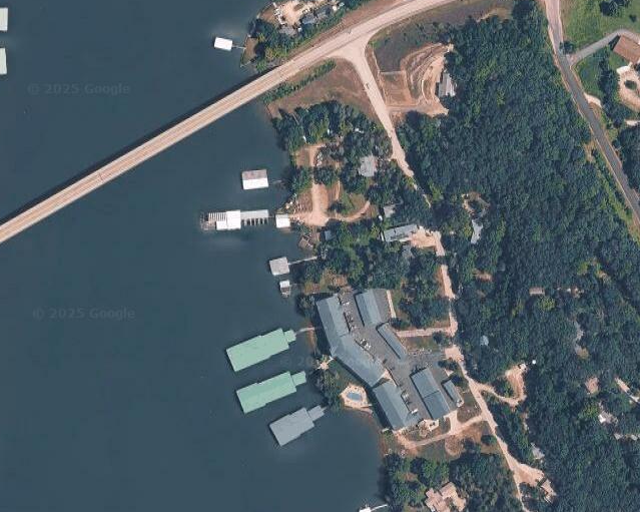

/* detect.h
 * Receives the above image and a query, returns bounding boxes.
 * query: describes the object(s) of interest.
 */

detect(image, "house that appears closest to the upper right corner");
[614,35,640,63]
